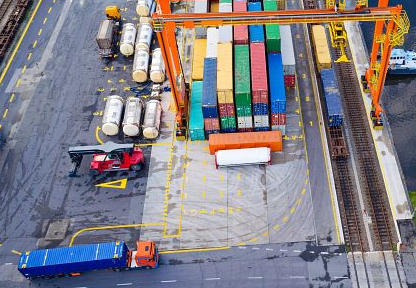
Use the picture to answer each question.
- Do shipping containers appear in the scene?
Yes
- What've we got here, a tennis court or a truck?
truck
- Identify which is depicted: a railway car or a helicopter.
railway car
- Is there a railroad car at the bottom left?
No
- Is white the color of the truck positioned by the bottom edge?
No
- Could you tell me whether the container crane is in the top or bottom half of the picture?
top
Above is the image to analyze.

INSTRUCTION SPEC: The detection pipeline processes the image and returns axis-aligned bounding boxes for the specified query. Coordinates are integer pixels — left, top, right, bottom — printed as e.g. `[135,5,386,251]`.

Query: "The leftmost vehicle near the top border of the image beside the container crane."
[101,9,122,53]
